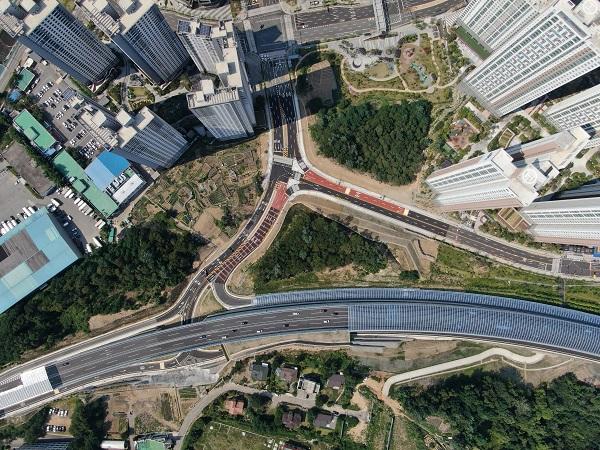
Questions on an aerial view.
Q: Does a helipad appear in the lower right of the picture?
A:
No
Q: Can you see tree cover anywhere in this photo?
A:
Yes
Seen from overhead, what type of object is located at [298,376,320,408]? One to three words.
house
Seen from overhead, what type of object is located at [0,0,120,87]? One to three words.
building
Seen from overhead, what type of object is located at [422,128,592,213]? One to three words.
building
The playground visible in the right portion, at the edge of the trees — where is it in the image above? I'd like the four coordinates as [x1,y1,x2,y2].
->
[348,44,434,87]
